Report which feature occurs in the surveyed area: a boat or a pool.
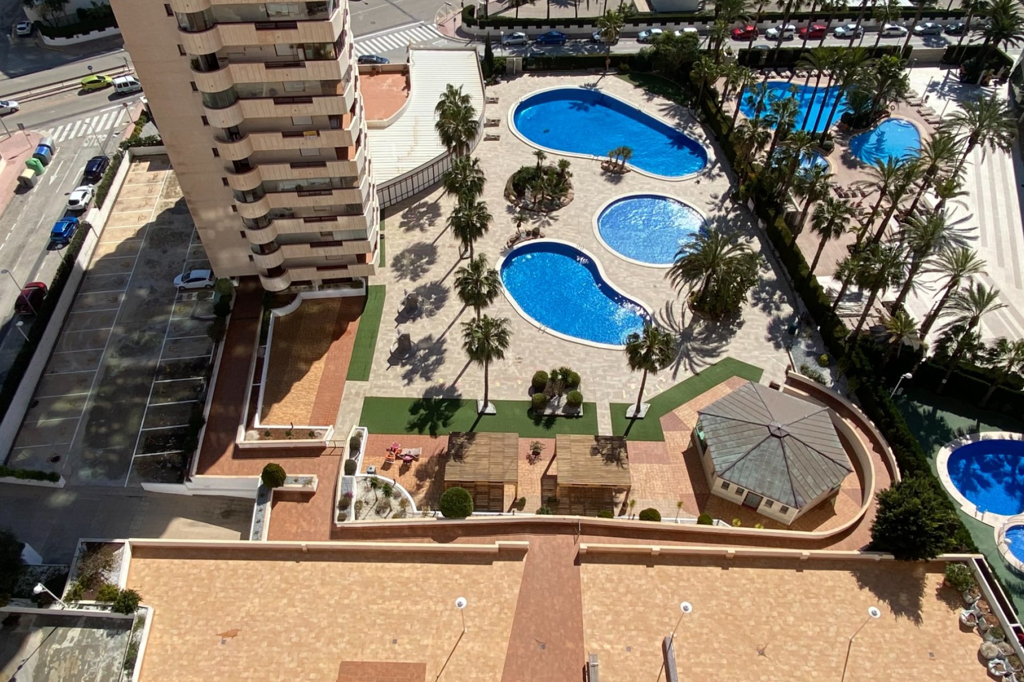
pool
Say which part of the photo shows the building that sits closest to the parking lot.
top left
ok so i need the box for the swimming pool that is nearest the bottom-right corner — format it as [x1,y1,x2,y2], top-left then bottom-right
[994,512,1024,568]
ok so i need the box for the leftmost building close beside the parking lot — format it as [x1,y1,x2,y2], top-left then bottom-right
[105,0,386,303]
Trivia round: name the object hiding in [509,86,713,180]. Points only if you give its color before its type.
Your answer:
blue swimming pool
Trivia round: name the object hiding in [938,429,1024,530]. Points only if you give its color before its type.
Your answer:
blue swimming pool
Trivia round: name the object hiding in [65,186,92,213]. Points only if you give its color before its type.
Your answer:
white car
